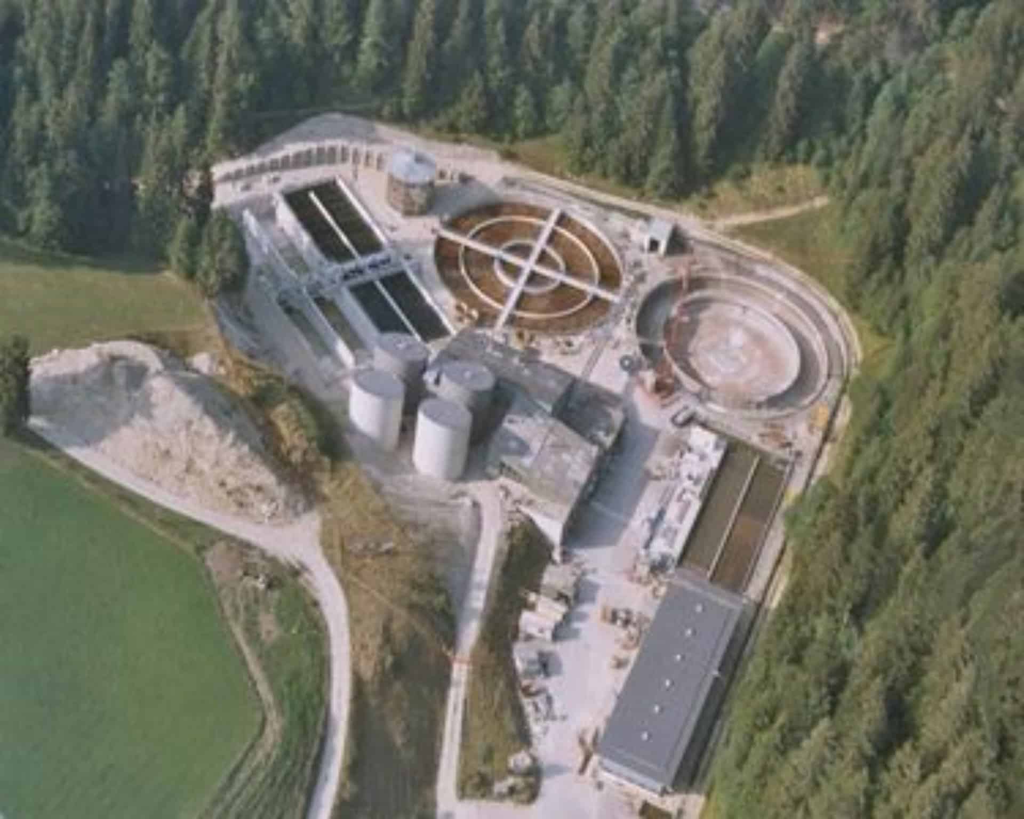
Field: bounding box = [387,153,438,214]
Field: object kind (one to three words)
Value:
storage tank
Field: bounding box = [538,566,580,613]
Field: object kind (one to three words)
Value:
shed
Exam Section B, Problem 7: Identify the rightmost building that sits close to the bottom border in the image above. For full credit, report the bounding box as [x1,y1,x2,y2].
[586,569,746,803]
